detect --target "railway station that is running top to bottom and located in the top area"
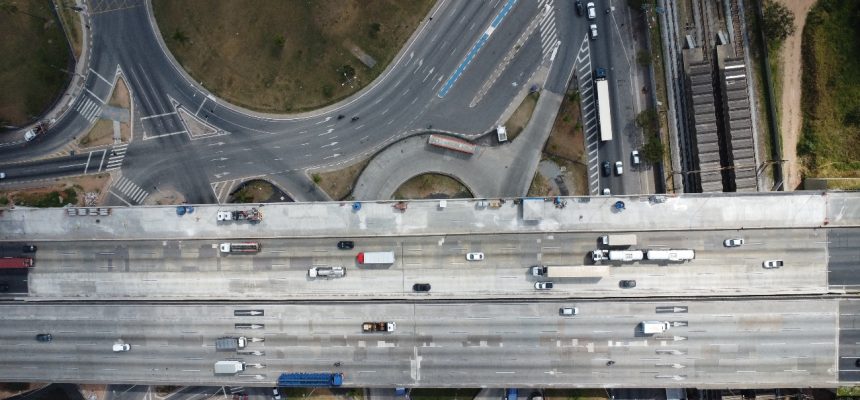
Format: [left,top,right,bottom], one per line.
[680,31,757,194]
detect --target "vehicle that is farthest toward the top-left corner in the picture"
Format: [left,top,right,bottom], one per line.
[21,118,57,143]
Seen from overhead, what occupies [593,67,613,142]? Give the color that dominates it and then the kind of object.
white vehicle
